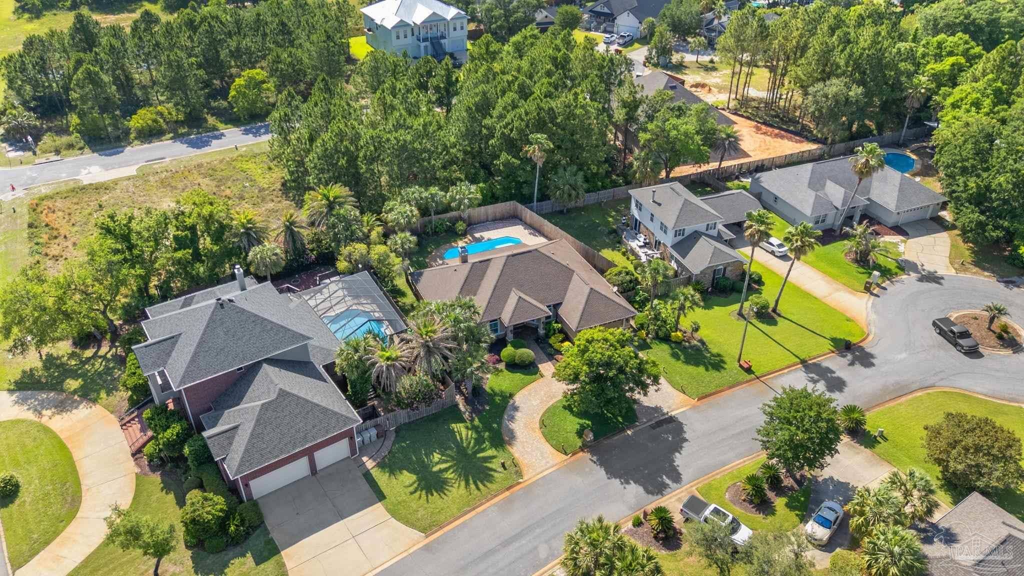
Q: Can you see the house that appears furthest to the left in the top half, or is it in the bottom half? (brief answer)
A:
bottom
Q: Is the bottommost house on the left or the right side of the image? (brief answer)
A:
right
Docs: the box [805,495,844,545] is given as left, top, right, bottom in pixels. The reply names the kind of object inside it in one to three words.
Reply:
car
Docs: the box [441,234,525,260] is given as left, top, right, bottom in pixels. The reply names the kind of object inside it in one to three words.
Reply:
swimming pool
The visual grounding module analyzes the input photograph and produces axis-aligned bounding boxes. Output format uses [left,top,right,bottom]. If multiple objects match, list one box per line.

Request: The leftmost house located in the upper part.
[359,0,468,65]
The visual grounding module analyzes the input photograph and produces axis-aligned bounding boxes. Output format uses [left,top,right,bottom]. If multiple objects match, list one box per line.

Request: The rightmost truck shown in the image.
[928,315,984,352]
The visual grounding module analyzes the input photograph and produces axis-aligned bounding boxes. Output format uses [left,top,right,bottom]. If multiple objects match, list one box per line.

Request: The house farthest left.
[128,258,366,500]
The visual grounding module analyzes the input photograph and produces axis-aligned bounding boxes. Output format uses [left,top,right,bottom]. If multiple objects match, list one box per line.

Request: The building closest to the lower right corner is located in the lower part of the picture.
[888,490,1024,576]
